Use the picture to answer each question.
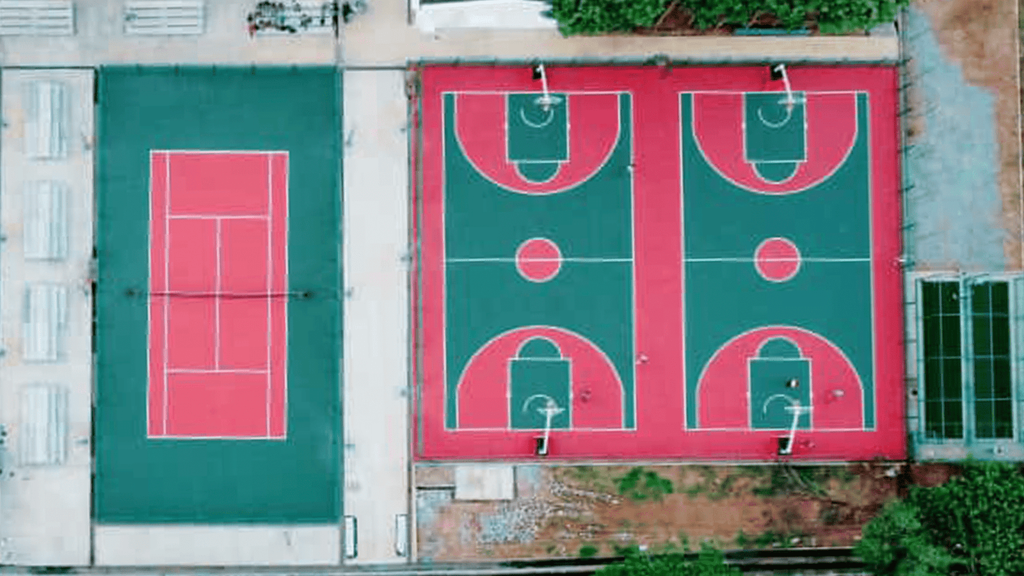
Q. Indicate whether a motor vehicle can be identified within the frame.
No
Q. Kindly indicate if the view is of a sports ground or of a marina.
sports ground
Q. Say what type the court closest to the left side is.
tennis court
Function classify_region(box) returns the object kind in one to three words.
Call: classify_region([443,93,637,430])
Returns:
basketball court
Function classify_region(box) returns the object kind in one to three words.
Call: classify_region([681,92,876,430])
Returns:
basketball court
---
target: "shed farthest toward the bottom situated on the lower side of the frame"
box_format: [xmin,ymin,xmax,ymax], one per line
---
[453,466,512,499]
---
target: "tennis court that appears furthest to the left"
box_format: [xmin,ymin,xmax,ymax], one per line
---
[95,69,341,525]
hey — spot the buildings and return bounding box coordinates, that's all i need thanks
[424,0,564,43]
[453,466,512,499]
